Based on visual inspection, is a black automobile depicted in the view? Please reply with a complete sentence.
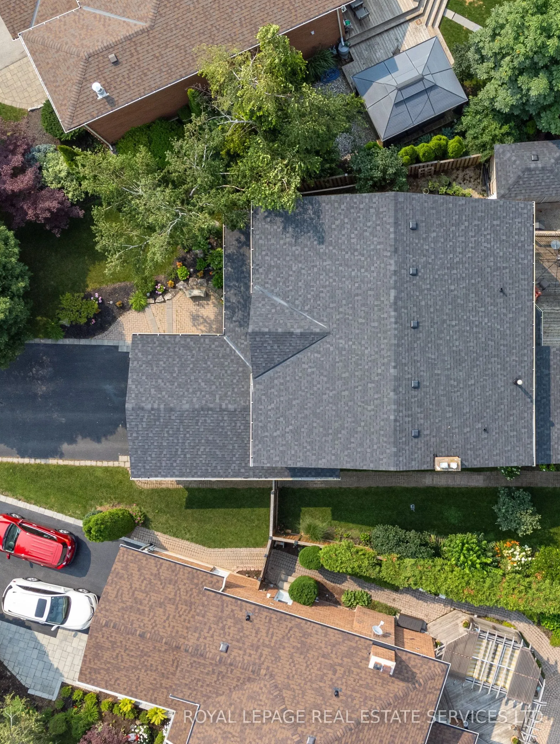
No, there isn't any black automobile down there.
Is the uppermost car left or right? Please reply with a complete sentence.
The uppermost car is on the left side of the image.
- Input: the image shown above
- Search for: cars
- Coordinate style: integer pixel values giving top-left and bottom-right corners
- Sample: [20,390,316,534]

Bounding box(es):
[0,512,81,570]
[0,575,98,632]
